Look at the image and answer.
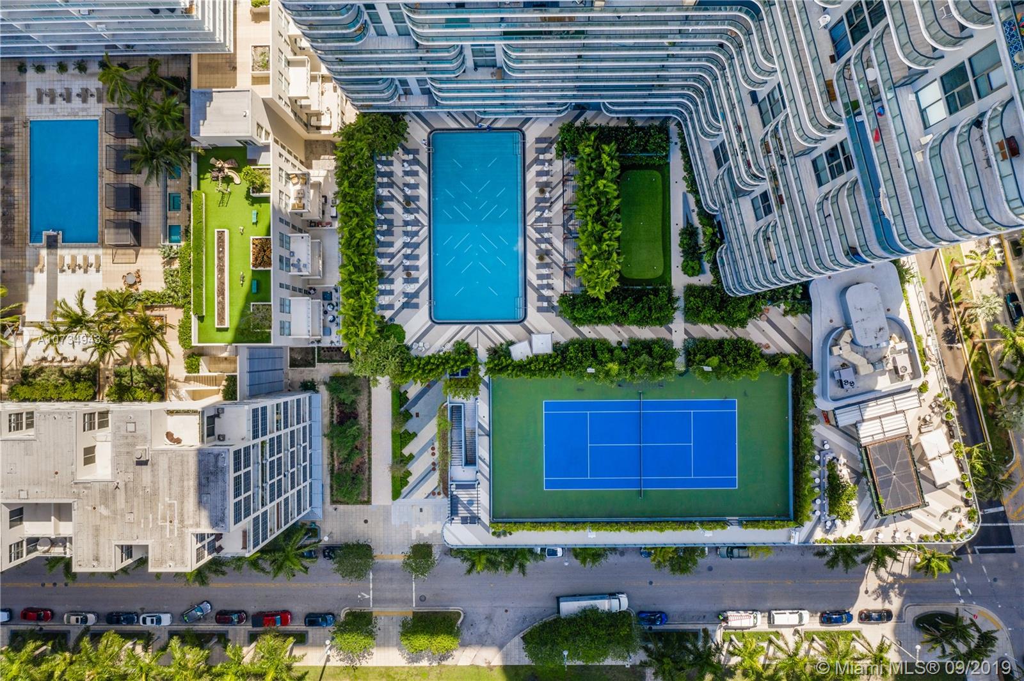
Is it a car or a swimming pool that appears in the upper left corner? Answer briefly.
swimming pool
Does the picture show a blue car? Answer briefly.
Yes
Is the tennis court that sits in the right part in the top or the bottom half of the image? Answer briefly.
bottom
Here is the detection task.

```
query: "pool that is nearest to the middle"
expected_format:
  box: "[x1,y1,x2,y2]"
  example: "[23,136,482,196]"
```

[429,128,529,324]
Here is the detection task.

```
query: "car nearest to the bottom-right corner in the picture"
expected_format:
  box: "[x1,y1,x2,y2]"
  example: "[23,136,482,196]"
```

[858,608,892,624]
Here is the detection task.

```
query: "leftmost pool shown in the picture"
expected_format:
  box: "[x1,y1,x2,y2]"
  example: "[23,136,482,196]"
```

[27,117,101,246]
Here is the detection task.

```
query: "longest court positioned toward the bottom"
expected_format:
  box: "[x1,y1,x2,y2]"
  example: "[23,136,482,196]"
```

[491,374,801,528]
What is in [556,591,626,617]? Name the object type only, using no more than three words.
truck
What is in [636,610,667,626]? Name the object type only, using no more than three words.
car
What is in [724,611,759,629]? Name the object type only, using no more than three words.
vehicle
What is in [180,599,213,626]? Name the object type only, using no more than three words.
car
